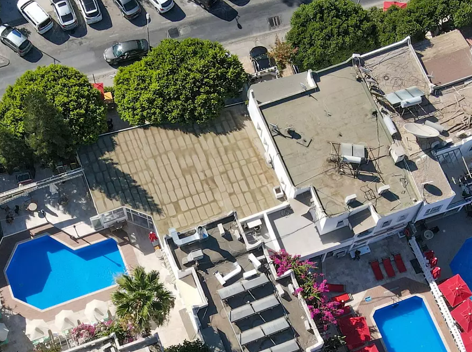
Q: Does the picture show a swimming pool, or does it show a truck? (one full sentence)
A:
Visible in the photo is a swimming pool.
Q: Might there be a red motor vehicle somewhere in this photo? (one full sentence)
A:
No, I can see no red motor vehicle in this picture.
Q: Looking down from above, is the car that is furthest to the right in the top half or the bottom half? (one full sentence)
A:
Seen from above, the car that is furthest to the right lies in the top half of the view.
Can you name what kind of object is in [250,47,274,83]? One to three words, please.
car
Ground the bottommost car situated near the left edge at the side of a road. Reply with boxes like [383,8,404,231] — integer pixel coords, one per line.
[0,24,35,61]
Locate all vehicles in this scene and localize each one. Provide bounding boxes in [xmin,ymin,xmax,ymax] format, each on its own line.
[250,47,274,83]
[149,0,175,15]
[0,24,35,61]
[52,0,82,33]
[76,0,103,27]
[16,0,56,37]
[103,39,149,67]
[114,0,141,22]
